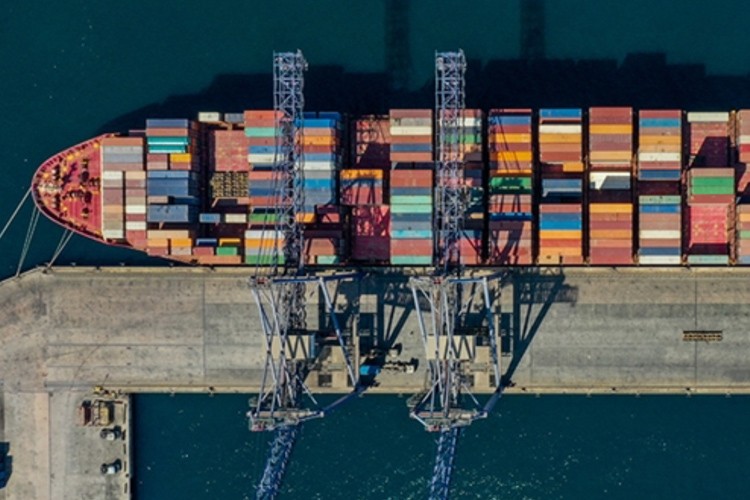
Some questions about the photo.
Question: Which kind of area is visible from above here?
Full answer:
This looks like a port.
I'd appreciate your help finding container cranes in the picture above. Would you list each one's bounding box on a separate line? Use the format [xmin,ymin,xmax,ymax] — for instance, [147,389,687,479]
[246,47,385,500]
[409,47,523,500]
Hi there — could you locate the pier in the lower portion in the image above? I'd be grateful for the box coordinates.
[0,265,750,500]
